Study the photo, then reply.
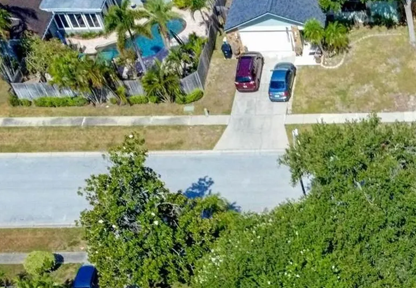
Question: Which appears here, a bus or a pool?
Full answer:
It is a pool that can be seen here.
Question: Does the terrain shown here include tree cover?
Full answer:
Yes, tree cover can be seen from above here.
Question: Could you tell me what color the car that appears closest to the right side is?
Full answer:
The color of the car that appears closest to the right side is blue.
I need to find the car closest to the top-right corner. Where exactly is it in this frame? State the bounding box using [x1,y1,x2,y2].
[268,64,296,99]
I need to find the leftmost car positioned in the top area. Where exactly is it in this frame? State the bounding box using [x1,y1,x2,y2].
[235,54,264,89]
